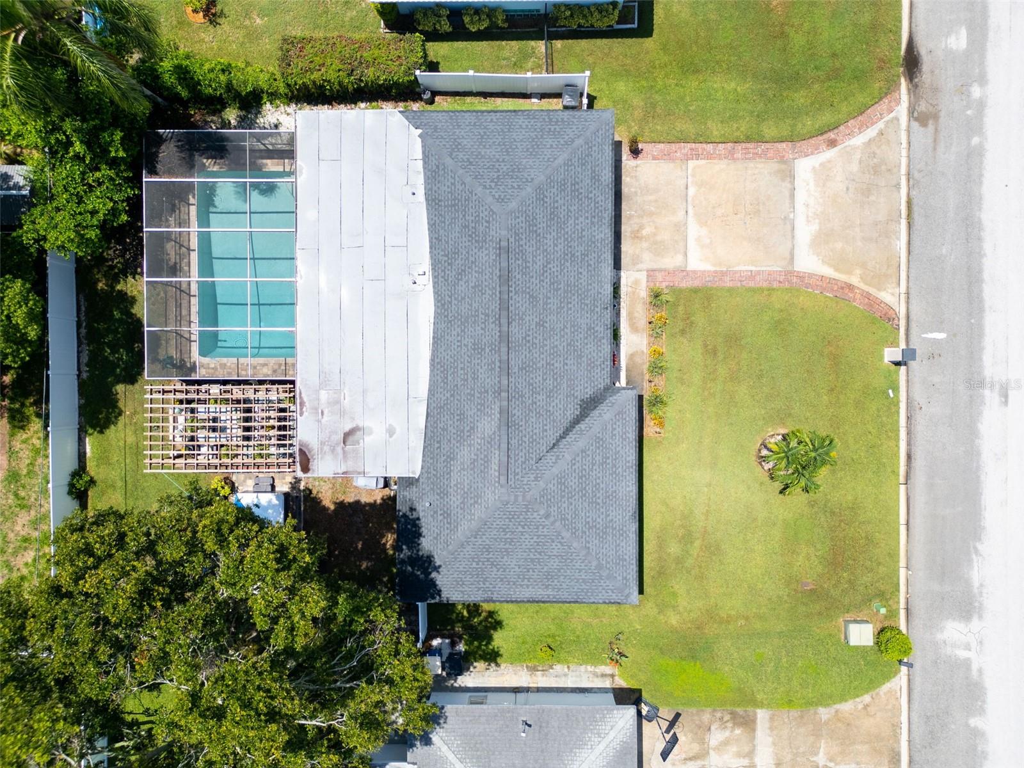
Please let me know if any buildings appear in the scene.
Yes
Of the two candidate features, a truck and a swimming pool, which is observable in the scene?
swimming pool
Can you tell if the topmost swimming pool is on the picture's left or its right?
left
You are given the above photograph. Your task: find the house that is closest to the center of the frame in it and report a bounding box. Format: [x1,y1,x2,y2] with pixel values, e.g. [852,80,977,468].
[296,110,638,603]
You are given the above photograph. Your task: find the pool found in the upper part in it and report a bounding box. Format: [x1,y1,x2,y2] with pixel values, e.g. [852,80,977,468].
[189,164,295,364]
